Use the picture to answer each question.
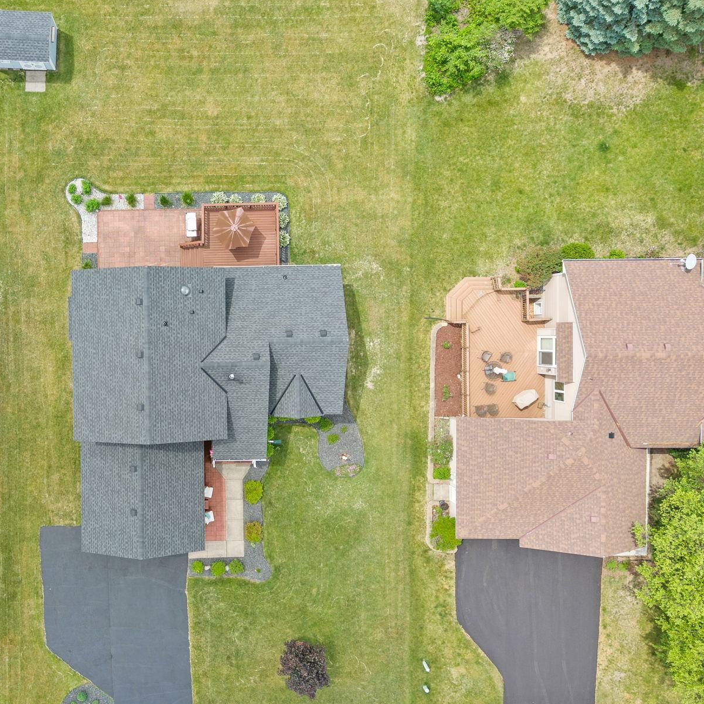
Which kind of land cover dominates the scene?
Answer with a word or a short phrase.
grass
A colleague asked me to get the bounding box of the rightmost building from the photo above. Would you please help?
[450,254,704,558]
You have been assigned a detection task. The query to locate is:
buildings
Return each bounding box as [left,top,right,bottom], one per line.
[450,254,704,558]
[68,264,348,559]
[0,9,57,69]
